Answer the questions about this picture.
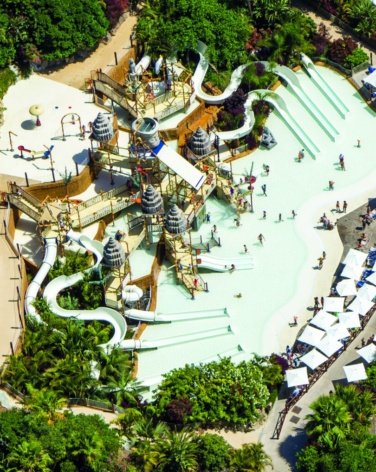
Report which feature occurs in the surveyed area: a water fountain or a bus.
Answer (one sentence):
It is a water fountain that can be seen here.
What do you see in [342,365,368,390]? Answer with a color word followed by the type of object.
white umbrella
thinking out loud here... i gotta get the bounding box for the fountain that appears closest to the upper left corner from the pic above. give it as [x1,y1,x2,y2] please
[23,99,50,128]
